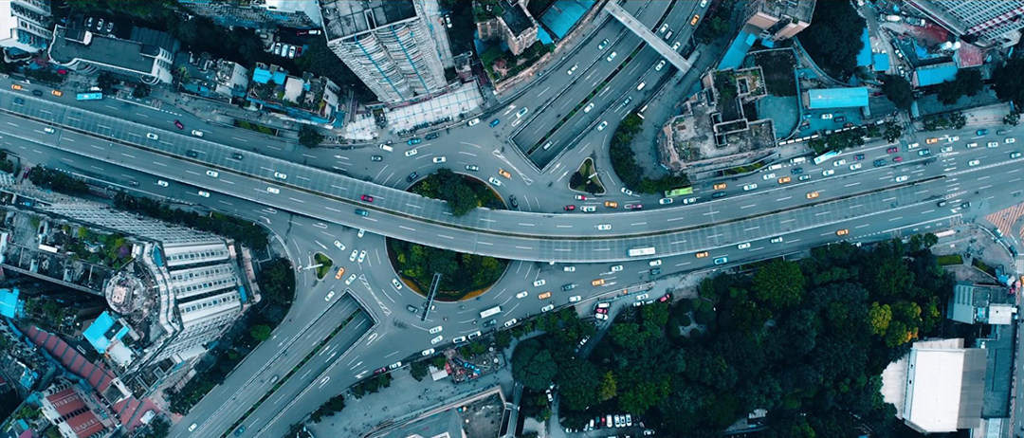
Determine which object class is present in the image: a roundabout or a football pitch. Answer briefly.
roundabout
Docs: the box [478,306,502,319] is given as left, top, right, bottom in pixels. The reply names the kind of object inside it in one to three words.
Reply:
vehicle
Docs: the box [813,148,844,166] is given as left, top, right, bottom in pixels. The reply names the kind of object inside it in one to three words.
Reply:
vehicle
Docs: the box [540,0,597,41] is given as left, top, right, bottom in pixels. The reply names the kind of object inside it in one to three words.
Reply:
shed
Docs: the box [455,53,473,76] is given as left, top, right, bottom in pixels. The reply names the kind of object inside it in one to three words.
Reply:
building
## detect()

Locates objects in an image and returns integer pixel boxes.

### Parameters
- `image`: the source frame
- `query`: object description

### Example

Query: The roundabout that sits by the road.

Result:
[385,171,510,302]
